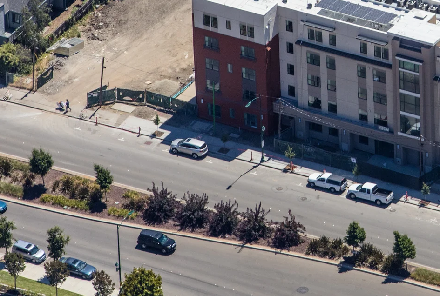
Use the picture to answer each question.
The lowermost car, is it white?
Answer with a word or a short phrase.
No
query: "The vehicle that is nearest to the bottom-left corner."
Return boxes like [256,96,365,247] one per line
[7,238,48,264]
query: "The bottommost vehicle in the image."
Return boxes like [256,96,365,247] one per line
[58,256,99,280]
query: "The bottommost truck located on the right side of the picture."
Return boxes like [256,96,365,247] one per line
[341,181,397,206]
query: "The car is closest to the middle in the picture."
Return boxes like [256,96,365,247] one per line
[167,137,210,159]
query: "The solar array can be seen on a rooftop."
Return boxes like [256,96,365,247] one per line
[314,0,399,30]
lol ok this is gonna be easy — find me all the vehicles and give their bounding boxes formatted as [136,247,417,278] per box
[7,238,48,264]
[341,181,397,206]
[298,168,352,194]
[58,256,99,280]
[0,196,13,212]
[167,137,210,159]
[134,228,180,255]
